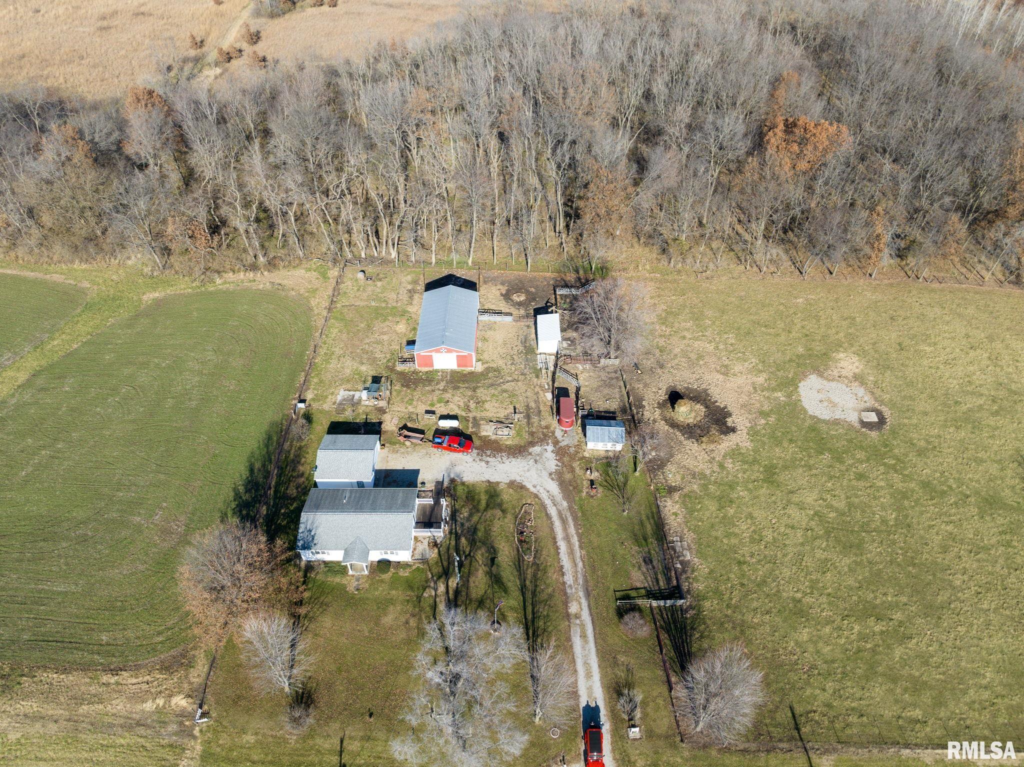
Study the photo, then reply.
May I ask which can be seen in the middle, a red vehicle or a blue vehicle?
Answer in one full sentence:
Looking in the middle, you will find a red vehicle.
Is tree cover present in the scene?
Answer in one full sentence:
Yes, there's tree cover in this view.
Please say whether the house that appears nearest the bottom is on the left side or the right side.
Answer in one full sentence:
You can find the house that appears nearest the bottom on the left side of the picture.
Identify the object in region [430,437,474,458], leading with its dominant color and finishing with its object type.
red truck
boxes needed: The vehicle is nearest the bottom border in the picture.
[584,730,606,767]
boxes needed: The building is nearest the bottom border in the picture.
[295,488,418,575]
